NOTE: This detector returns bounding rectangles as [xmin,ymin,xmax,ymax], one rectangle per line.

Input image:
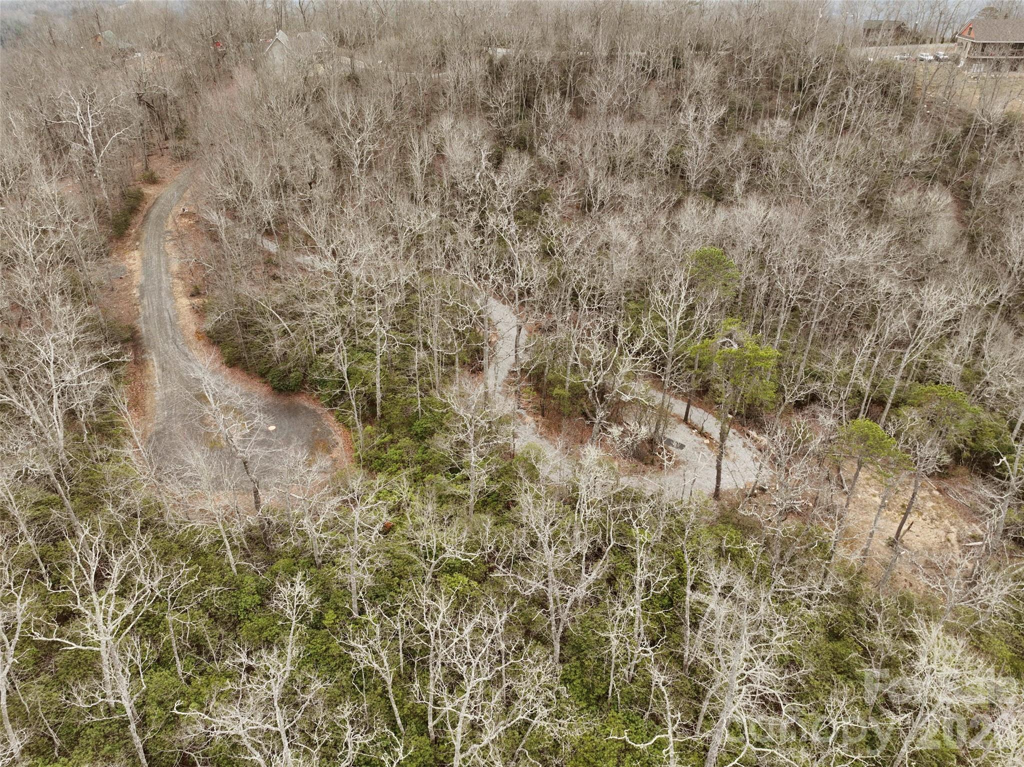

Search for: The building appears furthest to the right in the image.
[956,14,1024,77]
